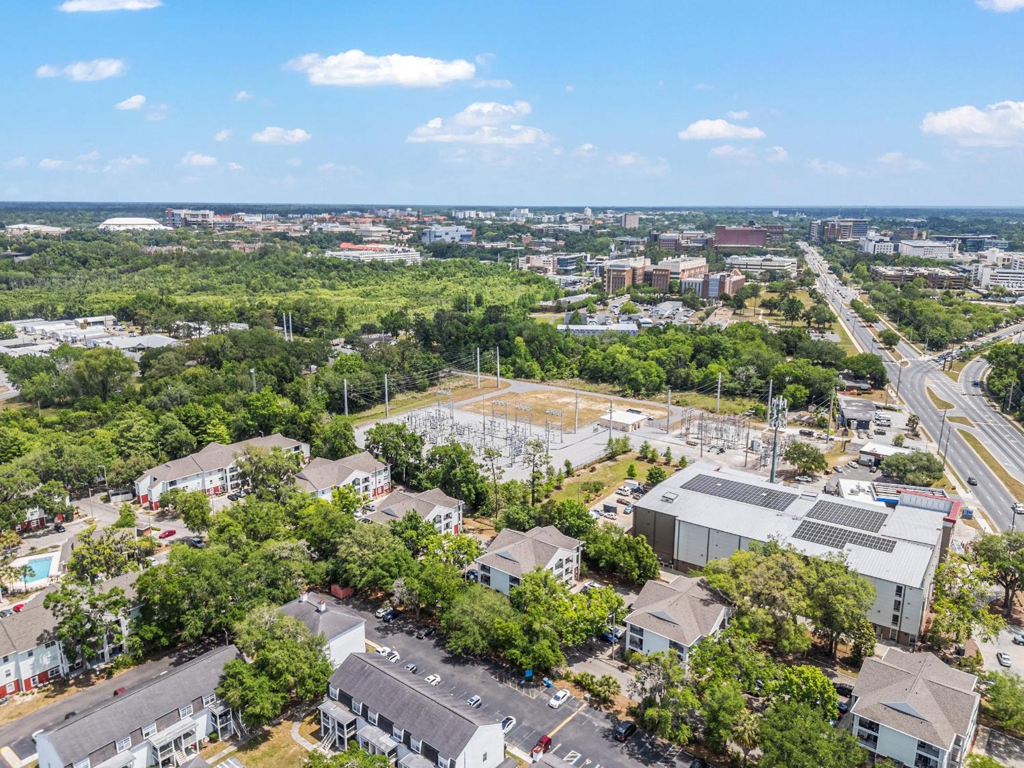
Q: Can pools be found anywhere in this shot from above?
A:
Yes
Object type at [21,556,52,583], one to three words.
swimming pool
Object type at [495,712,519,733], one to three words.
car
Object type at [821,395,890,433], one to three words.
building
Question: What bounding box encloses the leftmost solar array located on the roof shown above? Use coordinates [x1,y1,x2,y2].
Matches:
[683,473,797,509]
